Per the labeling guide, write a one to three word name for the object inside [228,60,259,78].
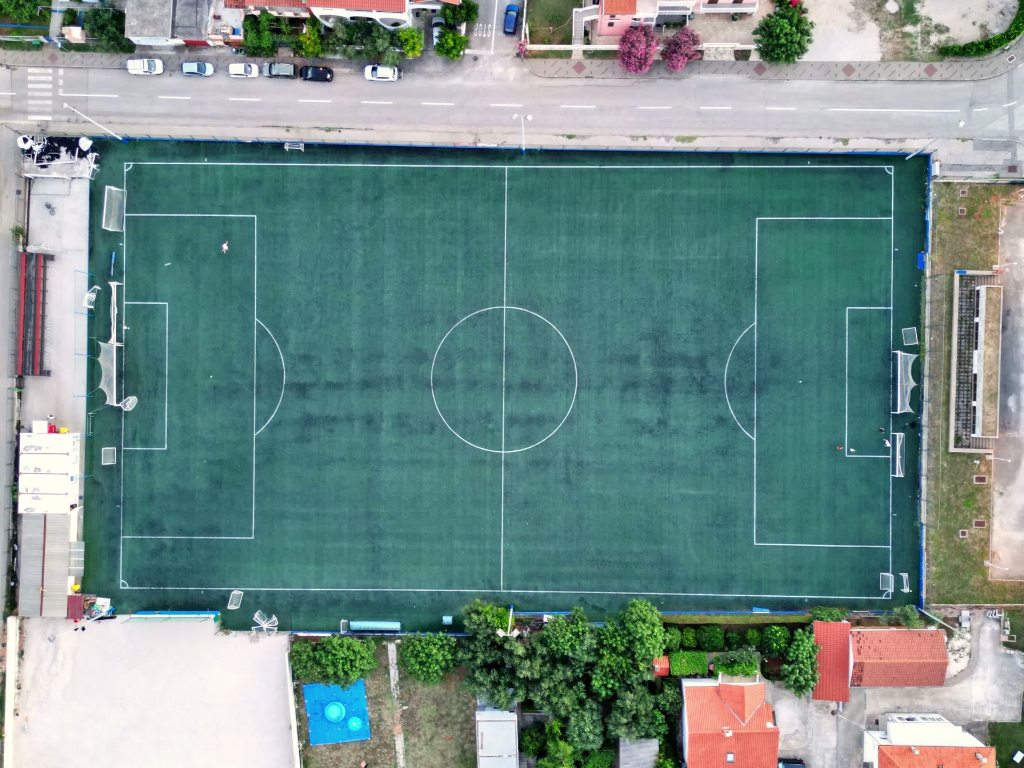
car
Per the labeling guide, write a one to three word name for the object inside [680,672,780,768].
house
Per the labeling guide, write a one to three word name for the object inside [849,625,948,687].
shed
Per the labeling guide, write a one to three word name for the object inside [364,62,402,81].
car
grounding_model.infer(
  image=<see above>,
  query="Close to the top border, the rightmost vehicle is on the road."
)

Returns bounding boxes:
[502,4,519,38]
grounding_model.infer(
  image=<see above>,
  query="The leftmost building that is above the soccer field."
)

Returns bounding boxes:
[125,0,178,44]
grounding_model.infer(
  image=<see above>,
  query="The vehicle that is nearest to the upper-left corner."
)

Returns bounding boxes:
[123,56,162,76]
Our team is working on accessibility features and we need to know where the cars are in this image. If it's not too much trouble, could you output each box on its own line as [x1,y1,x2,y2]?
[430,15,447,50]
[502,4,519,38]
[262,60,297,79]
[364,62,402,81]
[778,754,808,768]
[228,60,259,78]
[123,56,162,76]
[180,58,214,77]
[299,62,332,81]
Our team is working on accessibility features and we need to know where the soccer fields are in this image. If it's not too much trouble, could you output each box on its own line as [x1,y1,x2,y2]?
[84,140,929,634]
